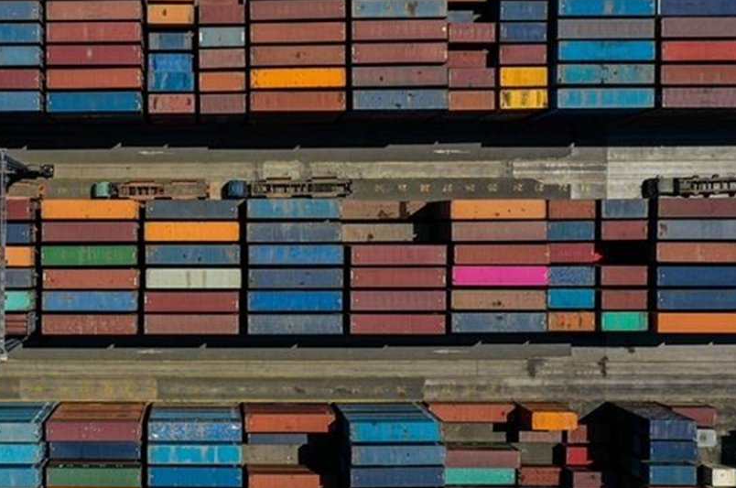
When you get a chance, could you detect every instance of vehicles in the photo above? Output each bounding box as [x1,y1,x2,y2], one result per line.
[91,178,208,200]
[2,181,51,200]
[225,178,351,200]
[646,175,736,198]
